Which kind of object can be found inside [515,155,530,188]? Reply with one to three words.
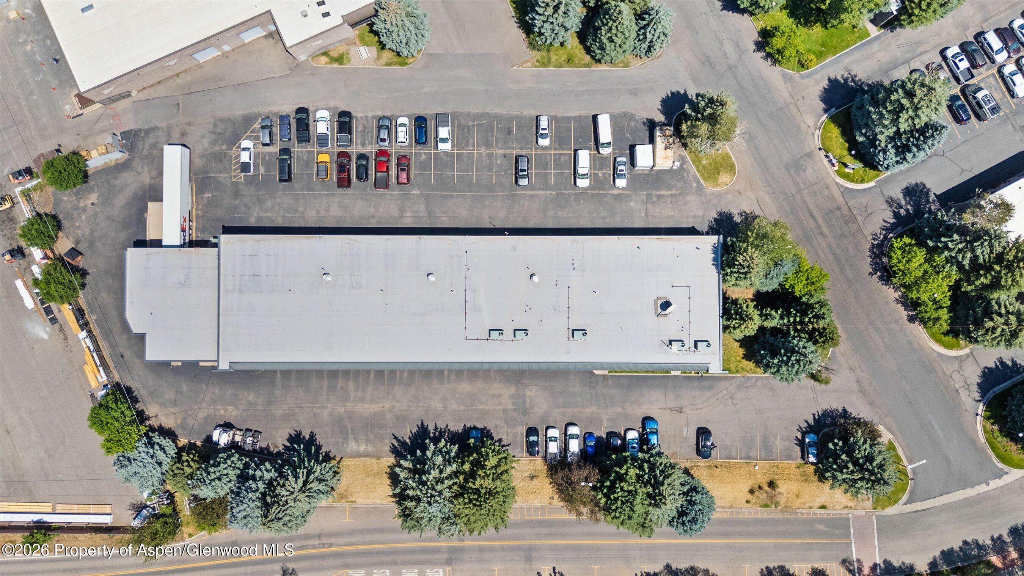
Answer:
car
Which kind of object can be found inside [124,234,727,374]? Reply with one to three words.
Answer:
warehouse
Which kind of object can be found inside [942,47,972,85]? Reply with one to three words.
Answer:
truck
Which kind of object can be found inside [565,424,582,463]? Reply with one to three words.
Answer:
vehicle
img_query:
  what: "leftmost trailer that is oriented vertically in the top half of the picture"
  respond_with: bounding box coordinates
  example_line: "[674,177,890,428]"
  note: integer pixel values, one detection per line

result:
[163,145,192,248]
